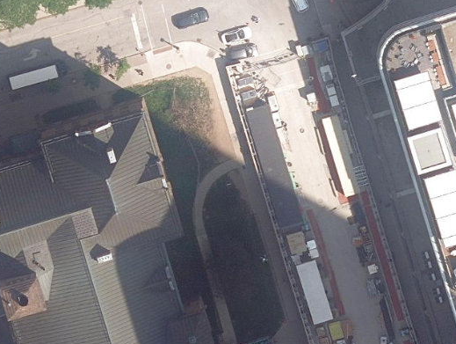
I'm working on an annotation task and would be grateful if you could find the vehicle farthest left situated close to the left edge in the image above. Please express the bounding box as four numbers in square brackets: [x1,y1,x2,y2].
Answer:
[8,65,62,93]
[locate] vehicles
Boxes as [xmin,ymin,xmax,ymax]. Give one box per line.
[292,0,309,12]
[173,8,209,28]
[225,44,258,61]
[219,27,252,45]
[8,65,62,93]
